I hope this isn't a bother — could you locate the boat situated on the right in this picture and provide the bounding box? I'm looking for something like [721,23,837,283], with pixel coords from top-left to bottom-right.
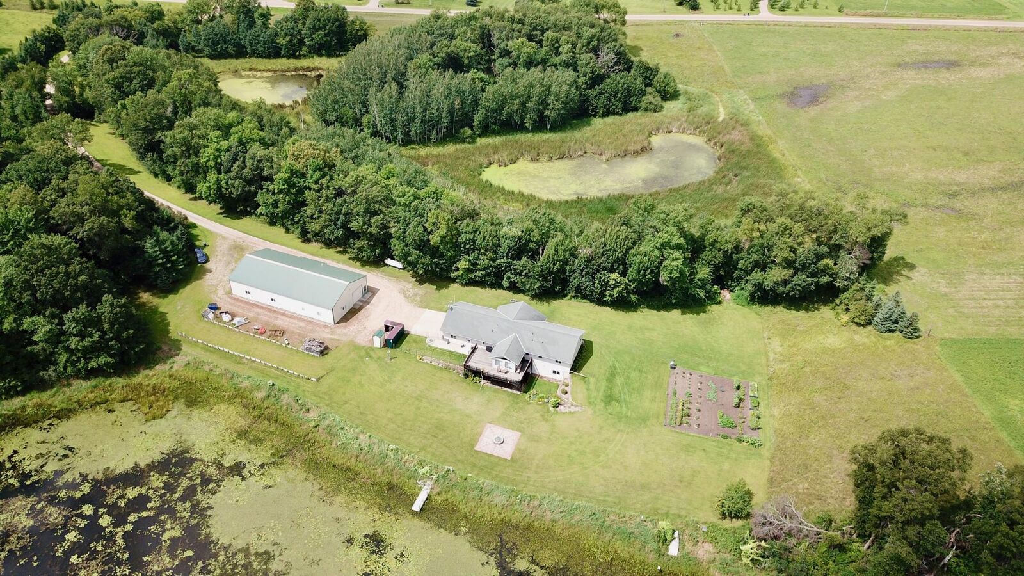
[668,530,680,557]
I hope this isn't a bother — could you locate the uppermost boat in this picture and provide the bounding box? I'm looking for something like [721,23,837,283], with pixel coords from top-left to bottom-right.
[382,257,404,269]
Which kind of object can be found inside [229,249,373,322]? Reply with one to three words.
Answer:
barn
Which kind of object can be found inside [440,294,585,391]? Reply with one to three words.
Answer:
house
